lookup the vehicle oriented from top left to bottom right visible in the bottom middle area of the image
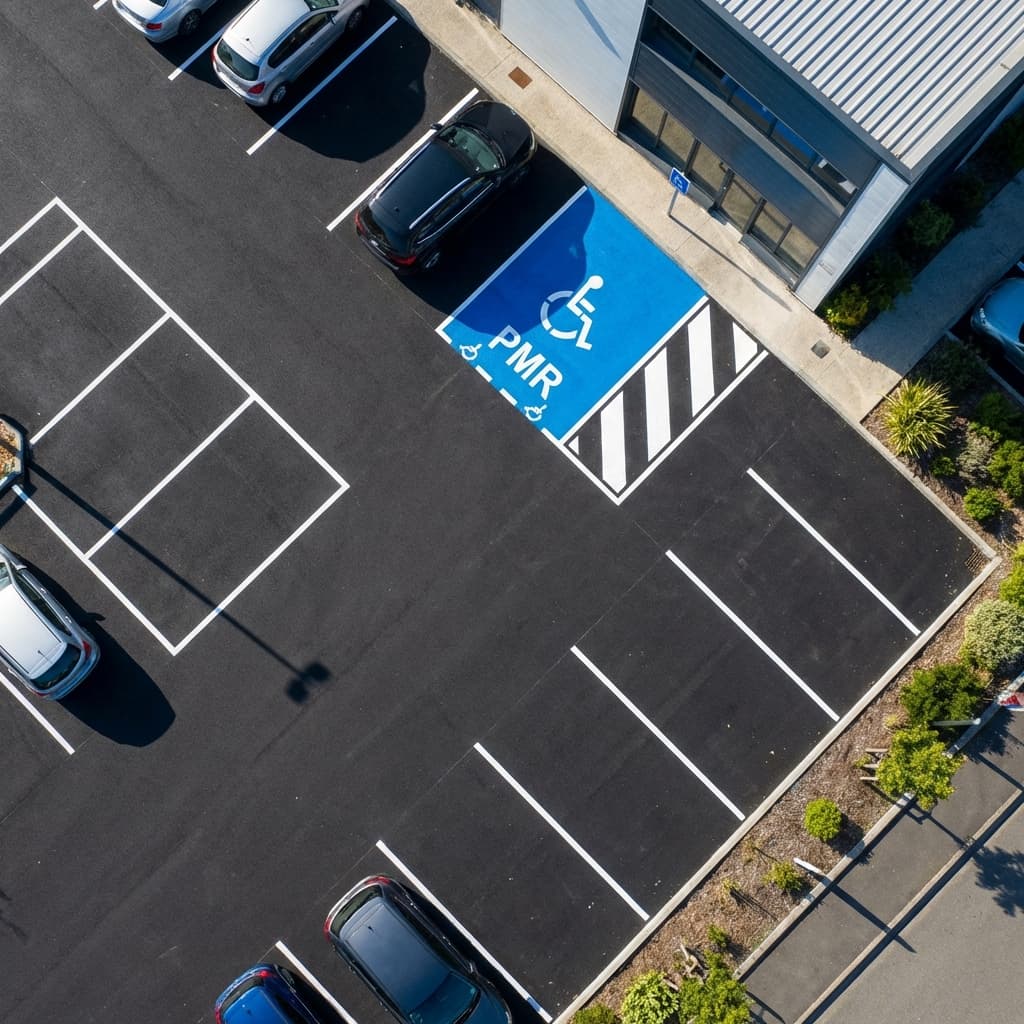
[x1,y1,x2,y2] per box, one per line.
[323,874,514,1024]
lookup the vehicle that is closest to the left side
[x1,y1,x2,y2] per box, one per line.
[0,534,102,699]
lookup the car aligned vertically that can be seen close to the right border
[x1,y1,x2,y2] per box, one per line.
[974,266,1024,371]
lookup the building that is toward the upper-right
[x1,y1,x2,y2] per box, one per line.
[473,0,1024,309]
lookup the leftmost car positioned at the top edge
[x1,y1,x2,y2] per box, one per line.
[112,0,213,41]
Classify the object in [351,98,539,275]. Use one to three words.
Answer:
car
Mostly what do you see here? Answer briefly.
paved ground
